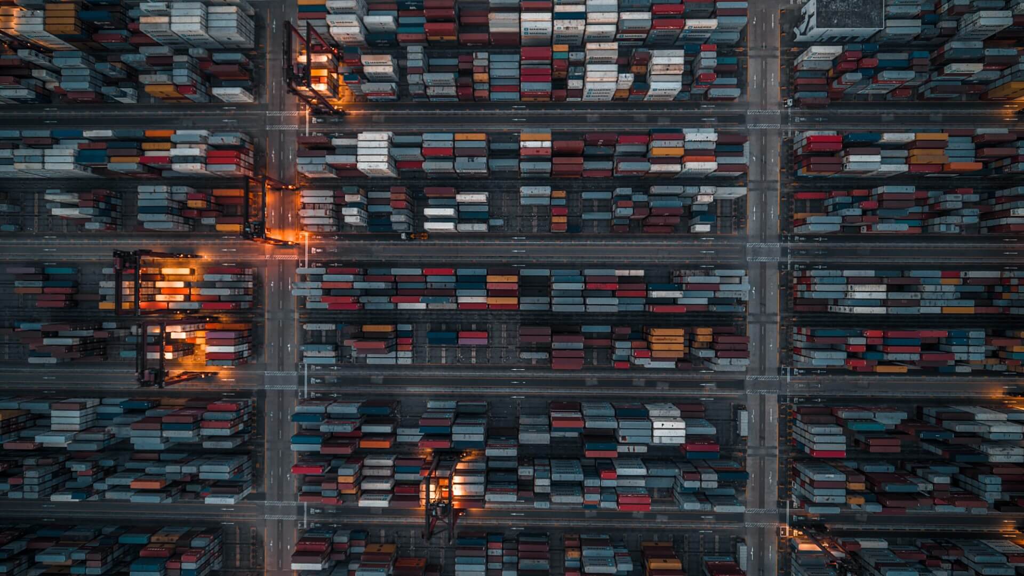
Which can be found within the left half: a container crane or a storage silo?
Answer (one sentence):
What appears within the left half is a container crane.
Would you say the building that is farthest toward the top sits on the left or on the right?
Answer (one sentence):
You can find the building that is farthest toward the top on the right side of the picture.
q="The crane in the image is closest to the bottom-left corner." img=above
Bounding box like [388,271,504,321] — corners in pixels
[140,315,218,389]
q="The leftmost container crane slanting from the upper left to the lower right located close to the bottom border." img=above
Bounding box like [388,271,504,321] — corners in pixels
[790,532,861,576]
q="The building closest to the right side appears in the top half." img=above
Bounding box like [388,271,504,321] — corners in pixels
[794,0,884,41]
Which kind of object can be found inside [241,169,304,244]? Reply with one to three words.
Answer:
container crane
